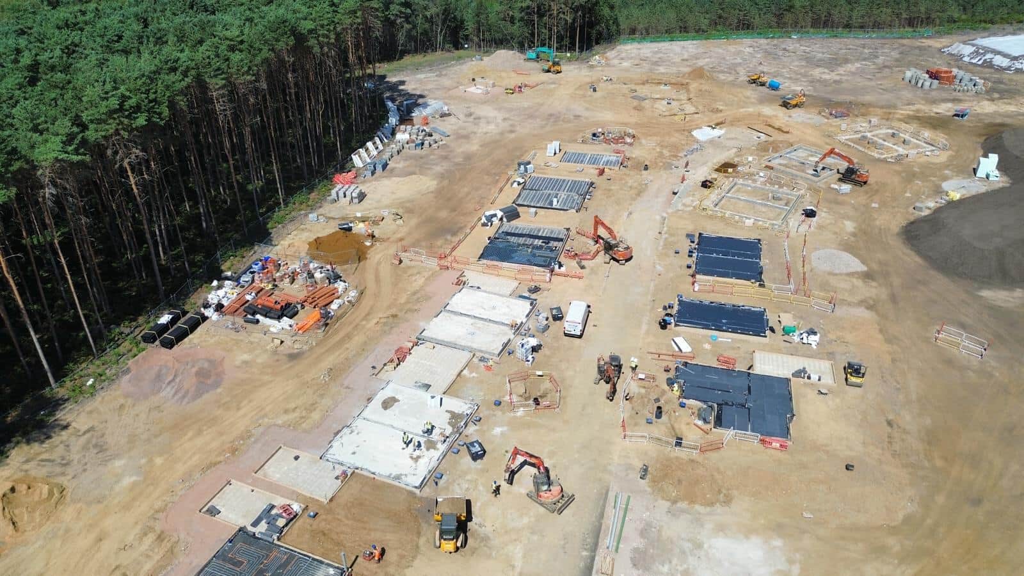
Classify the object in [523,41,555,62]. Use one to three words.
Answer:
work vehicle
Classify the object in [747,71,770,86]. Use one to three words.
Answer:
vehicle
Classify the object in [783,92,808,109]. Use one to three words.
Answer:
vehicle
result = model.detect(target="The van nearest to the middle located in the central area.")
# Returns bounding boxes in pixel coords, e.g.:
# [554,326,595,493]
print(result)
[564,302,592,338]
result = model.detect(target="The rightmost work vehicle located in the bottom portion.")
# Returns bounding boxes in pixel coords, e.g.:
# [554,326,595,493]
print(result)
[845,360,871,386]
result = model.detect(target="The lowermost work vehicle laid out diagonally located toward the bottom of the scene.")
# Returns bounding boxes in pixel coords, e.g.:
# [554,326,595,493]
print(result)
[505,450,580,519]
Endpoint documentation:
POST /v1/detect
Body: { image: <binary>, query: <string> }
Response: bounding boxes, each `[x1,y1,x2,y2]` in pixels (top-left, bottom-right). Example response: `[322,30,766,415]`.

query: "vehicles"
[783,92,808,109]
[523,41,555,62]
[505,450,580,519]
[596,359,624,401]
[845,360,871,386]
[543,58,563,72]
[591,209,633,263]
[564,302,592,338]
[809,144,871,189]
[747,71,770,86]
